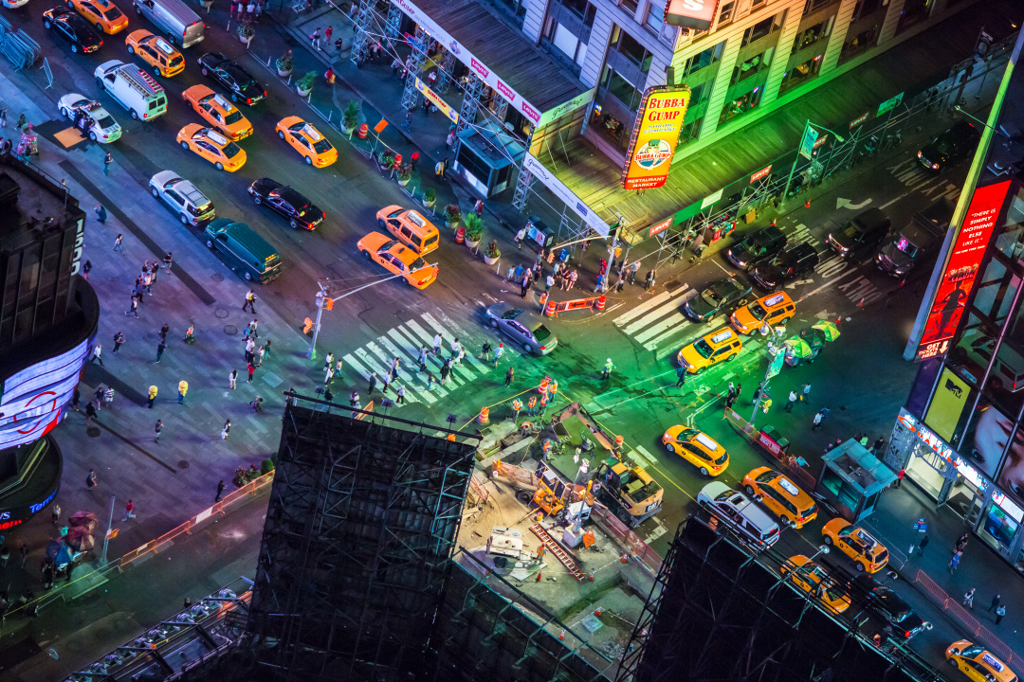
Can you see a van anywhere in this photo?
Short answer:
Yes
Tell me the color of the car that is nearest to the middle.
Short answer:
blue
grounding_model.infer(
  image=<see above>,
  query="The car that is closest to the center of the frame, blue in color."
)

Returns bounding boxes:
[477,309,564,360]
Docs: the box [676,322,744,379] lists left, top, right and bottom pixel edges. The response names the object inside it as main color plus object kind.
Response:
yellow car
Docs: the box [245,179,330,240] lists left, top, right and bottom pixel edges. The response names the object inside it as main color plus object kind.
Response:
black car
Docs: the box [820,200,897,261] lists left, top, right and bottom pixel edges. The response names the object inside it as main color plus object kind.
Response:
black car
